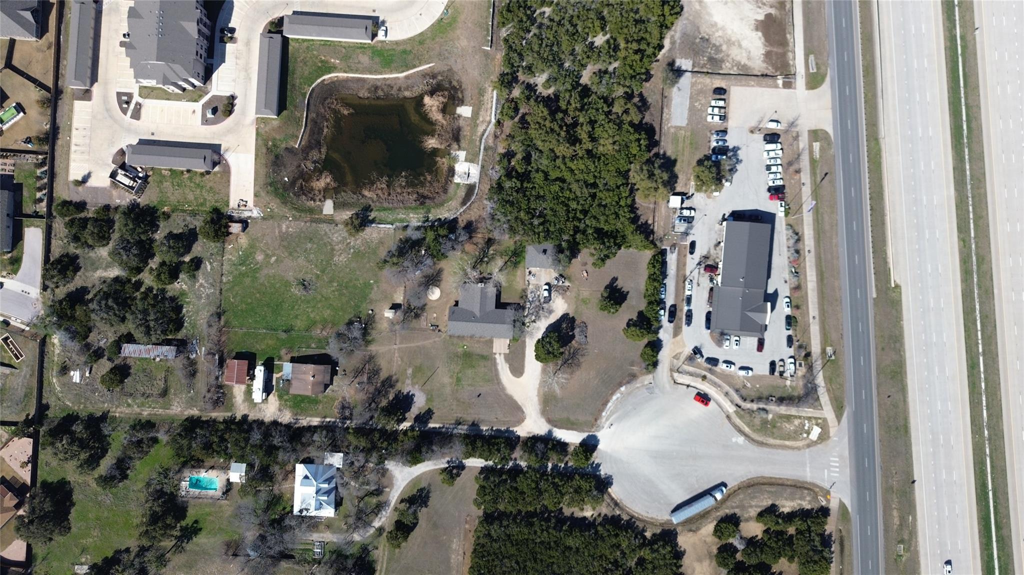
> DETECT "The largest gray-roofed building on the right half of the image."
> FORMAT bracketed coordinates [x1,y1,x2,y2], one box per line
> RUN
[710,221,771,338]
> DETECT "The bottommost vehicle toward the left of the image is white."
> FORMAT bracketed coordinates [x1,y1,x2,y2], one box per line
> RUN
[251,366,264,401]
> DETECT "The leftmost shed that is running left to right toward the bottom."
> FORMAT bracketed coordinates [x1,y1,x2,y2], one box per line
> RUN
[121,344,178,359]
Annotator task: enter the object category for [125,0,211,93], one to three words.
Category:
building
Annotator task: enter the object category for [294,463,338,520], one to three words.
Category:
house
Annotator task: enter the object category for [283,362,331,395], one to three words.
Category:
house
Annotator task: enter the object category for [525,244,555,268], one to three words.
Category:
building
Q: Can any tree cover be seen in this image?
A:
Yes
